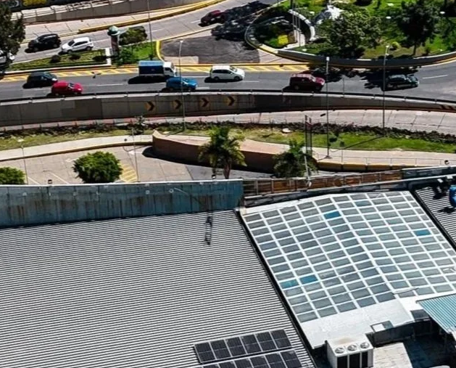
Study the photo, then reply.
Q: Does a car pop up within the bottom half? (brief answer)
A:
No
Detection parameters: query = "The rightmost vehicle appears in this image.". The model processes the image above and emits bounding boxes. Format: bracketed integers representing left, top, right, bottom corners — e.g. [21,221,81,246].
[384,76,415,90]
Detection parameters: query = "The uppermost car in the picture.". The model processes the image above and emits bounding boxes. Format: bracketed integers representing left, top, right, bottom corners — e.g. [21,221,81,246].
[201,11,227,26]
